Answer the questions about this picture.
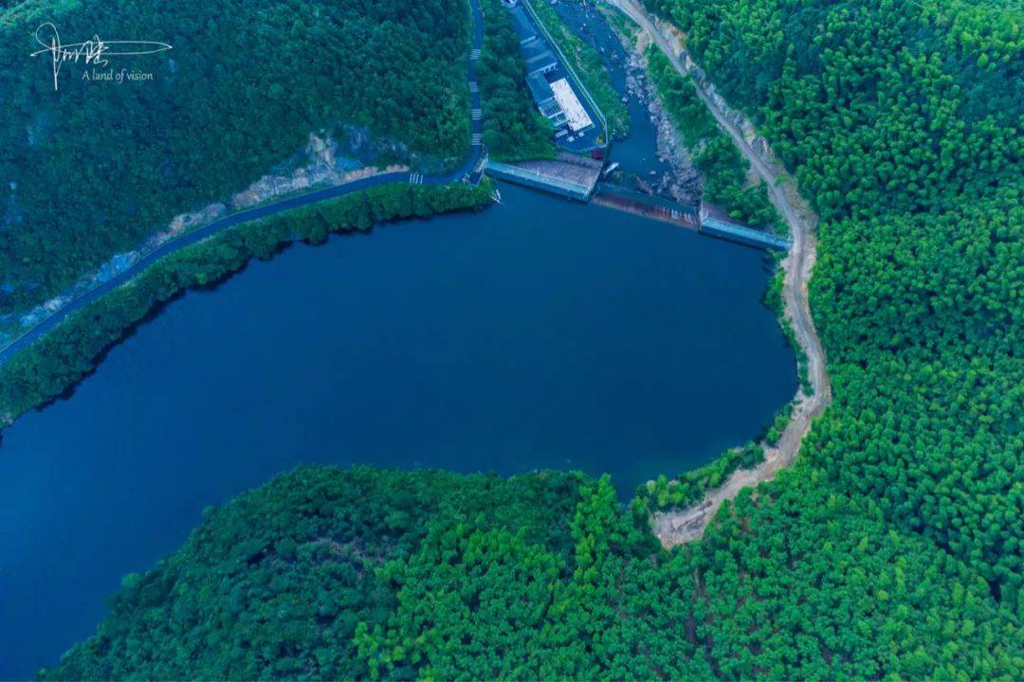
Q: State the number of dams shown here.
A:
one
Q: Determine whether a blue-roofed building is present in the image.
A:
Yes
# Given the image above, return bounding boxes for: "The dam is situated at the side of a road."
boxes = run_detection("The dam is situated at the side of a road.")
[487,152,796,249]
